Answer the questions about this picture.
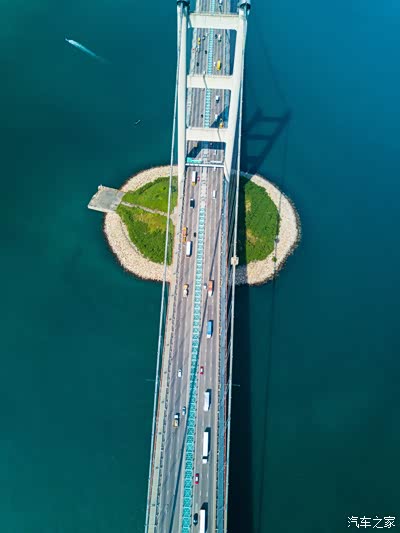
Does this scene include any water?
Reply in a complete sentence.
Yes, there is water in the image.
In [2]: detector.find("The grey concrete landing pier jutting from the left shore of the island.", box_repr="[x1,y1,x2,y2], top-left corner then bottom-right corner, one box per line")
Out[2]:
[89,183,124,212]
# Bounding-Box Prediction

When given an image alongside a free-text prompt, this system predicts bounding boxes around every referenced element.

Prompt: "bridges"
[145,0,251,533]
